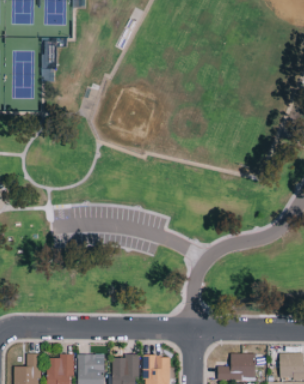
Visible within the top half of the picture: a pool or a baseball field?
baseball field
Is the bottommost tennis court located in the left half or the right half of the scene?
left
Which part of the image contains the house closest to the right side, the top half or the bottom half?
bottom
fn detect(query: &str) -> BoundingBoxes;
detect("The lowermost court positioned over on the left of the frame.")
[12,51,34,99]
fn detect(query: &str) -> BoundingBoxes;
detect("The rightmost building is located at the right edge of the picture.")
[279,354,304,382]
